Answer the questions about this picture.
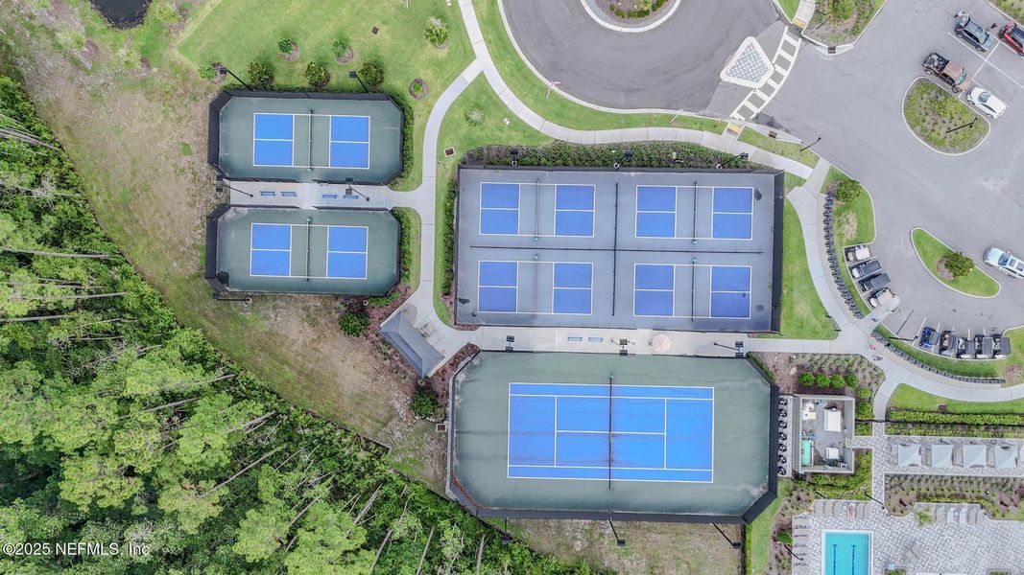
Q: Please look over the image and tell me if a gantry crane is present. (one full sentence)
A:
No, there isn't any gantry crane down there.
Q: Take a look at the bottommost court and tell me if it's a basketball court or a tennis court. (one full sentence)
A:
It looks like the bottommost court is a tennis court.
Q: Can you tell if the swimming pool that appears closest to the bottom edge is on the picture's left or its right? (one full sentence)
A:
The swimming pool that appears closest to the bottom edge sits on the right side.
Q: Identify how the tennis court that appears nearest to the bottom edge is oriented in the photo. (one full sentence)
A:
The tennis court that appears nearest to the bottom edge has been laid out from side to side relative to the frame.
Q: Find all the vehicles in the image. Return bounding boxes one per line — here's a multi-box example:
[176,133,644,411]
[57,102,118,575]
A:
[986,248,1024,279]
[939,332,961,354]
[845,247,873,261]
[852,259,883,276]
[969,84,1009,117]
[927,49,973,91]
[994,335,1014,356]
[862,272,893,290]
[957,8,997,48]
[921,327,946,349]
[868,287,898,306]
[958,337,979,358]
[974,336,997,357]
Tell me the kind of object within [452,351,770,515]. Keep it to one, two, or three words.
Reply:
tennis court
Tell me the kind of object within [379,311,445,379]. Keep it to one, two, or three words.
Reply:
building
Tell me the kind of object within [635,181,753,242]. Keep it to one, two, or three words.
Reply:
sports court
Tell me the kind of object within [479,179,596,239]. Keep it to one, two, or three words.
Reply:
sports court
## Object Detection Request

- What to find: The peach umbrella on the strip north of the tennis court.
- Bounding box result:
[652,333,671,353]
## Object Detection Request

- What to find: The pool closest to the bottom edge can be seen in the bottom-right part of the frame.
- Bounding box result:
[821,530,874,575]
